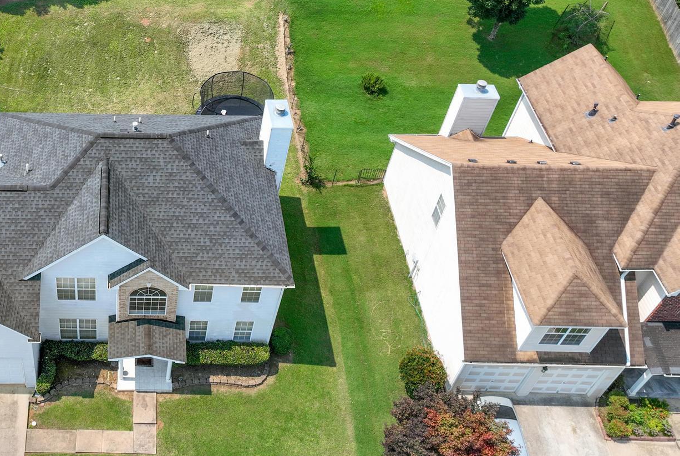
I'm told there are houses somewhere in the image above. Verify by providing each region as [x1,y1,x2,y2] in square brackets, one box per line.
[383,44,680,416]
[0,99,297,392]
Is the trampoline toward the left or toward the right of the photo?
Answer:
left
